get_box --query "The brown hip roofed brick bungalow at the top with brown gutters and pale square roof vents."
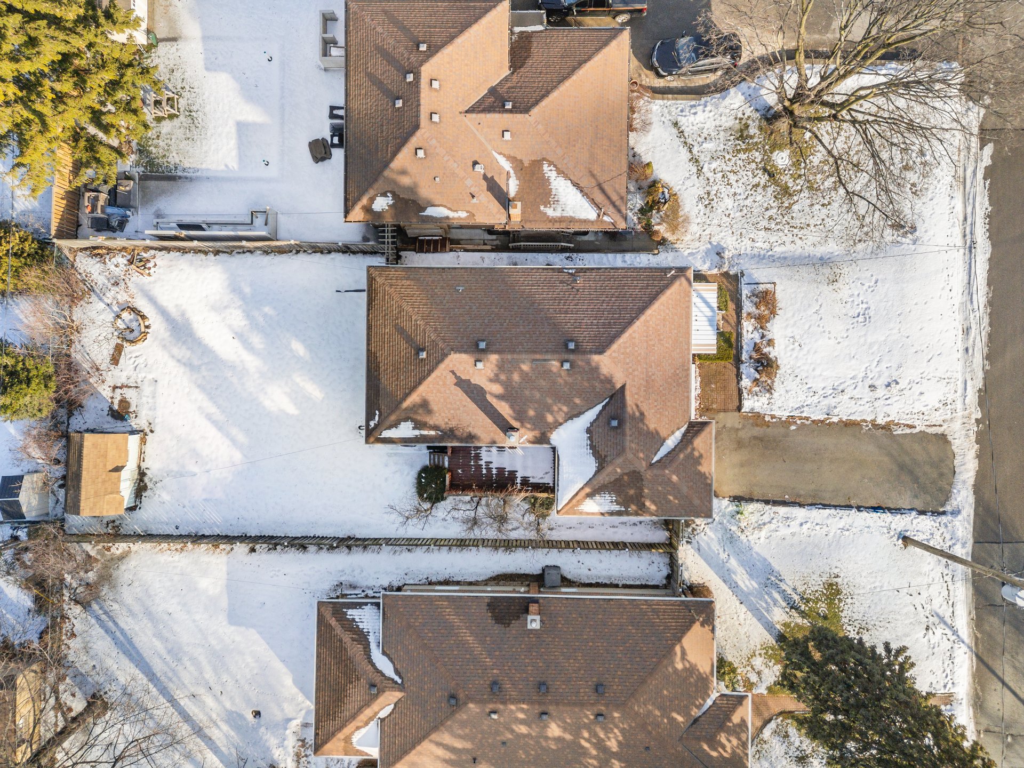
[342,0,632,233]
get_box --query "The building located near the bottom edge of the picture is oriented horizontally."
[312,576,752,768]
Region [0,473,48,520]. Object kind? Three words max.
shed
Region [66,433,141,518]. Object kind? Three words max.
shed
